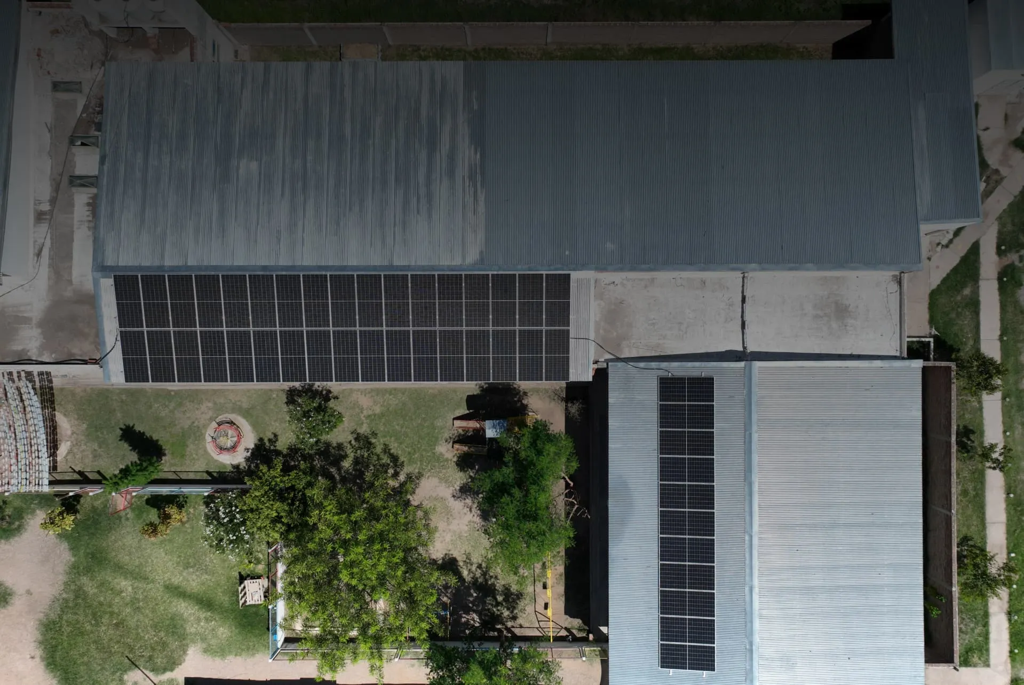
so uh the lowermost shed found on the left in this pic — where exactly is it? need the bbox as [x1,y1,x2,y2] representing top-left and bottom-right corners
[0,371,70,491]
